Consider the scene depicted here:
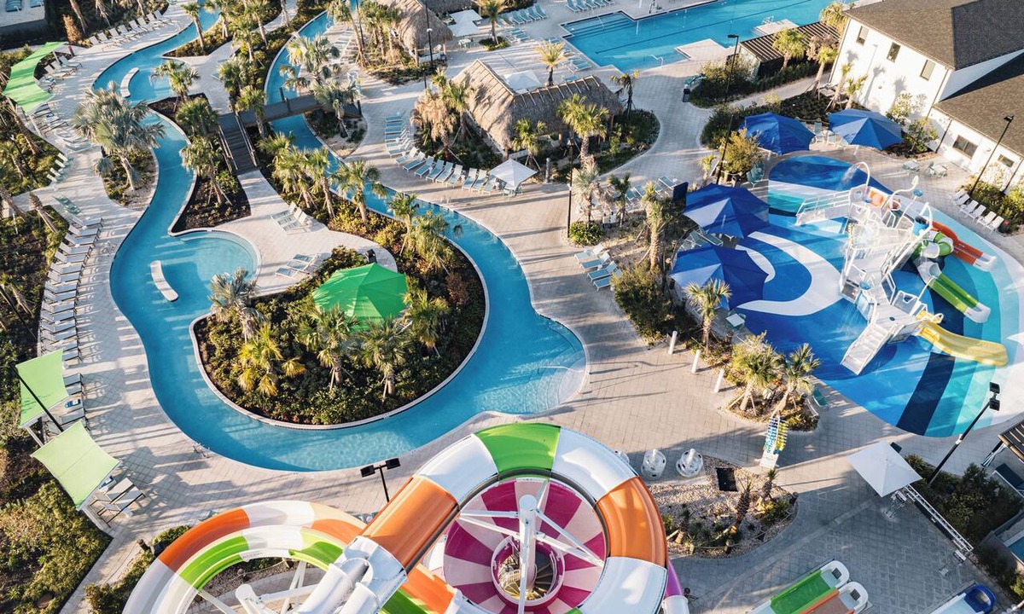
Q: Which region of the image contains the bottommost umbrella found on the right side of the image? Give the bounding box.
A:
[846,440,922,502]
